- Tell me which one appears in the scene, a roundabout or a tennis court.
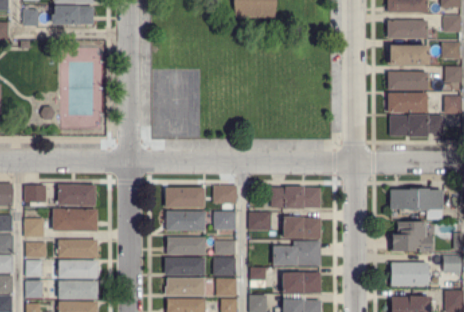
tennis court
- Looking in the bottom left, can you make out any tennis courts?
No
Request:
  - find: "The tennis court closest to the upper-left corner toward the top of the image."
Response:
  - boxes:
[58,40,104,134]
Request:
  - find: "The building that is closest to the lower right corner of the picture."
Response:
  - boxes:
[444,290,462,312]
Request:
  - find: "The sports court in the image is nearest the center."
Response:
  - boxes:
[150,69,200,138]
